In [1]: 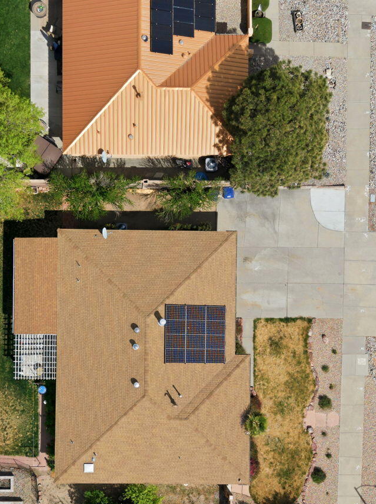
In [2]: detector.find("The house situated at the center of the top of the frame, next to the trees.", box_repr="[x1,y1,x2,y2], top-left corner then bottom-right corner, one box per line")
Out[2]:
[61,0,251,156]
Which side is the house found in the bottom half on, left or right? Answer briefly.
left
